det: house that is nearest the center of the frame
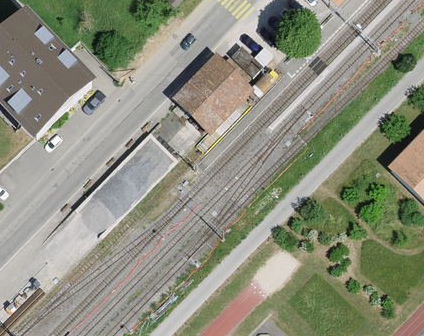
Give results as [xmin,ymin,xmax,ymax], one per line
[172,52,254,134]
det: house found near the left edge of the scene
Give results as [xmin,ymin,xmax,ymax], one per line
[0,5,97,143]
